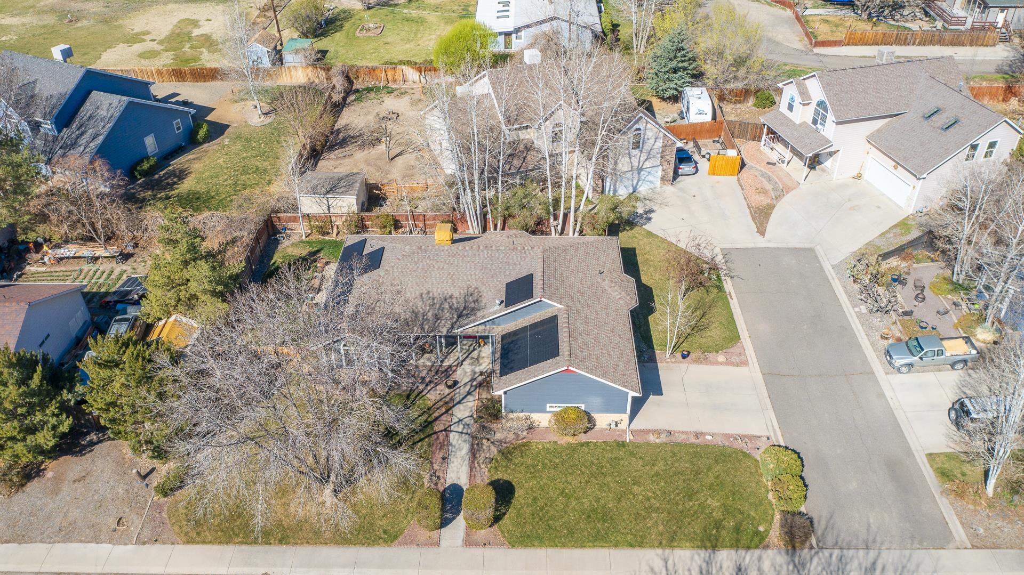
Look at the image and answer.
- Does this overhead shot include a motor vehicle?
Yes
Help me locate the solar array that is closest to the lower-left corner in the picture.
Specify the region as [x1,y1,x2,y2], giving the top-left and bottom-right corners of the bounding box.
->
[98,275,153,320]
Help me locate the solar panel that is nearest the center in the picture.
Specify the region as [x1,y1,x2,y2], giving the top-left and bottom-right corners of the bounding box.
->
[503,269,533,306]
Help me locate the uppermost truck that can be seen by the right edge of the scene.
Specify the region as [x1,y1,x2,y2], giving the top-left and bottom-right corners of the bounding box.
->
[874,331,984,375]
